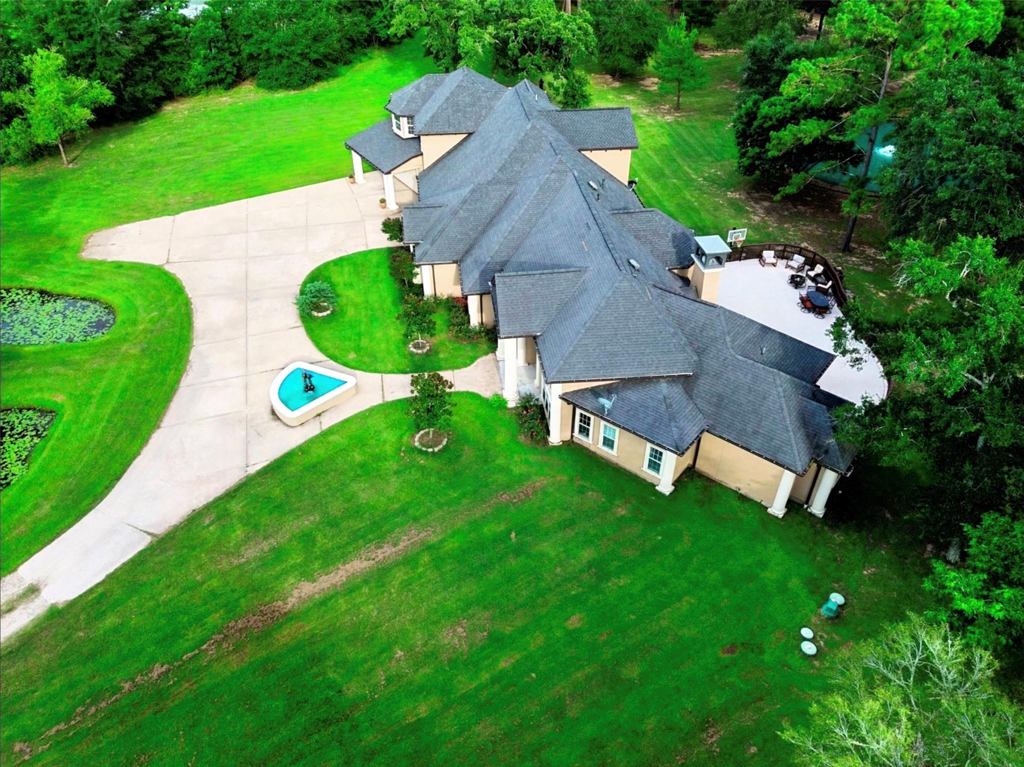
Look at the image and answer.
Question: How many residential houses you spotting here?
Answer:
1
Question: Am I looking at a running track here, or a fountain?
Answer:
fountain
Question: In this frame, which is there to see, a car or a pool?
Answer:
pool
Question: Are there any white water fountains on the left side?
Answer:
Yes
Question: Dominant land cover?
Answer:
grass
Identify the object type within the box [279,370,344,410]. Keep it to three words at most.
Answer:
swimming pool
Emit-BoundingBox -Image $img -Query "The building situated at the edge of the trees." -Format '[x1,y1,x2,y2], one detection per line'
[343,70,884,519]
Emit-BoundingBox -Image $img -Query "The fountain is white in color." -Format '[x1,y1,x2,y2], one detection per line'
[269,362,358,424]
